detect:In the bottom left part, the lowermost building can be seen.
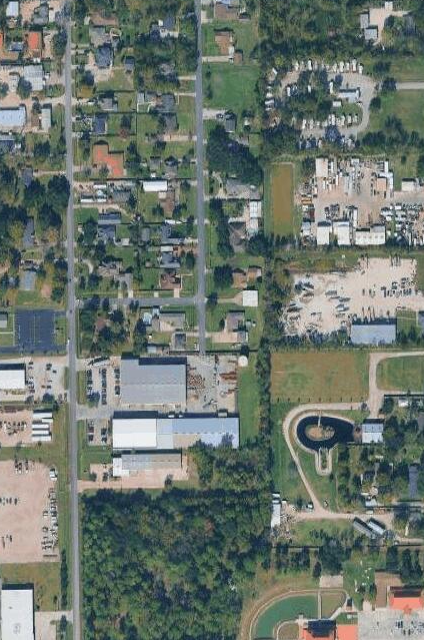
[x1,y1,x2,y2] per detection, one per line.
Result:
[0,589,34,640]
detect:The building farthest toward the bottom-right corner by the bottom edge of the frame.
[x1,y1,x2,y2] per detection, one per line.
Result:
[388,589,424,614]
